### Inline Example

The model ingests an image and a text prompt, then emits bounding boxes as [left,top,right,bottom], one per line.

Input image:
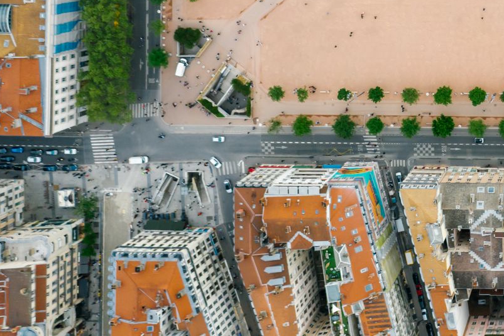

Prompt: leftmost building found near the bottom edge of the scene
[0,217,83,336]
